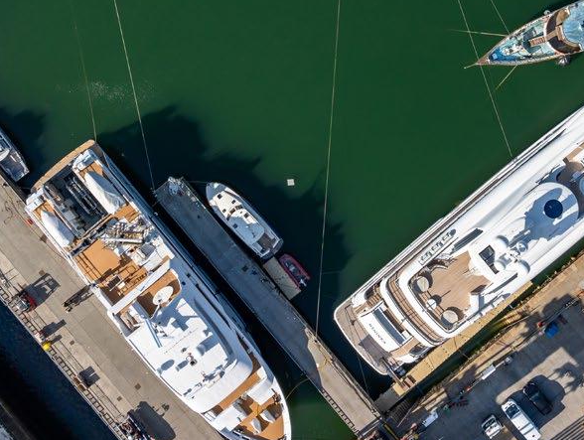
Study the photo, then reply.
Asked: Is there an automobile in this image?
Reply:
Yes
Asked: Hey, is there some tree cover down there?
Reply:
No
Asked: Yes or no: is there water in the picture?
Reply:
Yes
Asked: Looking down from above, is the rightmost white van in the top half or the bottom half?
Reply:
bottom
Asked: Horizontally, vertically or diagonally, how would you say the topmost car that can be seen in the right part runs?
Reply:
diagonally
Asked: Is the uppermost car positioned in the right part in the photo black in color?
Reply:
Yes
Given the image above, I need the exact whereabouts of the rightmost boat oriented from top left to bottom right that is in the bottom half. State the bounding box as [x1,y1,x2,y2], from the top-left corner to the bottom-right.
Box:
[278,253,311,292]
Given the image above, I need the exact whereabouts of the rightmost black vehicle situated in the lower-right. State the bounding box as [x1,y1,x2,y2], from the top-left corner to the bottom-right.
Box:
[522,380,554,417]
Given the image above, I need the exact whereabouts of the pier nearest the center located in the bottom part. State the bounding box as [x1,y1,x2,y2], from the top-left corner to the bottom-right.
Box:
[264,256,300,301]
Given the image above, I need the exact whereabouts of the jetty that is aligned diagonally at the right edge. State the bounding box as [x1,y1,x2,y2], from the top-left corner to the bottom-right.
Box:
[393,254,570,398]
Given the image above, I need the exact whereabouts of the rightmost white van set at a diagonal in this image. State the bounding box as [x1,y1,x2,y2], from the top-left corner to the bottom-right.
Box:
[501,400,542,440]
